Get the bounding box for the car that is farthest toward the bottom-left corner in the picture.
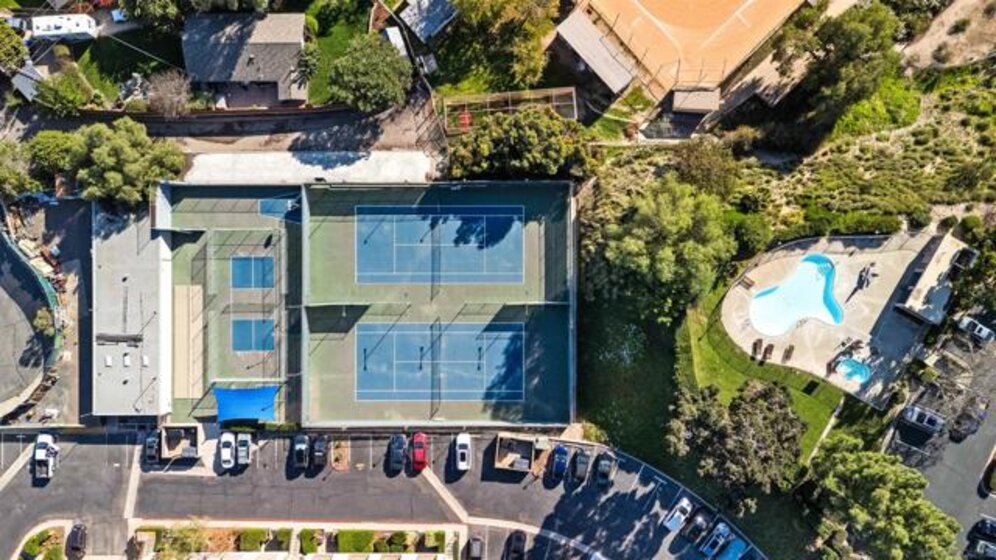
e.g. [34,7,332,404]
[66,524,87,560]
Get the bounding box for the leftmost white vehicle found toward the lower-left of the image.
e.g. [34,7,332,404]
[36,434,57,476]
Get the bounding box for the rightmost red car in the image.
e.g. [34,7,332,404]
[411,433,428,469]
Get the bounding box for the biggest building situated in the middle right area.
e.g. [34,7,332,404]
[880,233,969,325]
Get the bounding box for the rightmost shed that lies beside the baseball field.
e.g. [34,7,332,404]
[669,88,720,116]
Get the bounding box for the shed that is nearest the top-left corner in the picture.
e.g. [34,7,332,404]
[12,60,51,102]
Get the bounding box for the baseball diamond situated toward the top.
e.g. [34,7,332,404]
[591,0,803,97]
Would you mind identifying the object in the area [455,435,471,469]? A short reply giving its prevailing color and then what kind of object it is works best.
white car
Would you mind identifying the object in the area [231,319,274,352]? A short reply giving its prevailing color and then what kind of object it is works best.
blue sports court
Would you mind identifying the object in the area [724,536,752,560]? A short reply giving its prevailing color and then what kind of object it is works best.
blue car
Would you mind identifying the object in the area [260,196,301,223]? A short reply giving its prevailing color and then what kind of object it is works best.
blue basketball court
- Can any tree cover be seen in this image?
Yes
